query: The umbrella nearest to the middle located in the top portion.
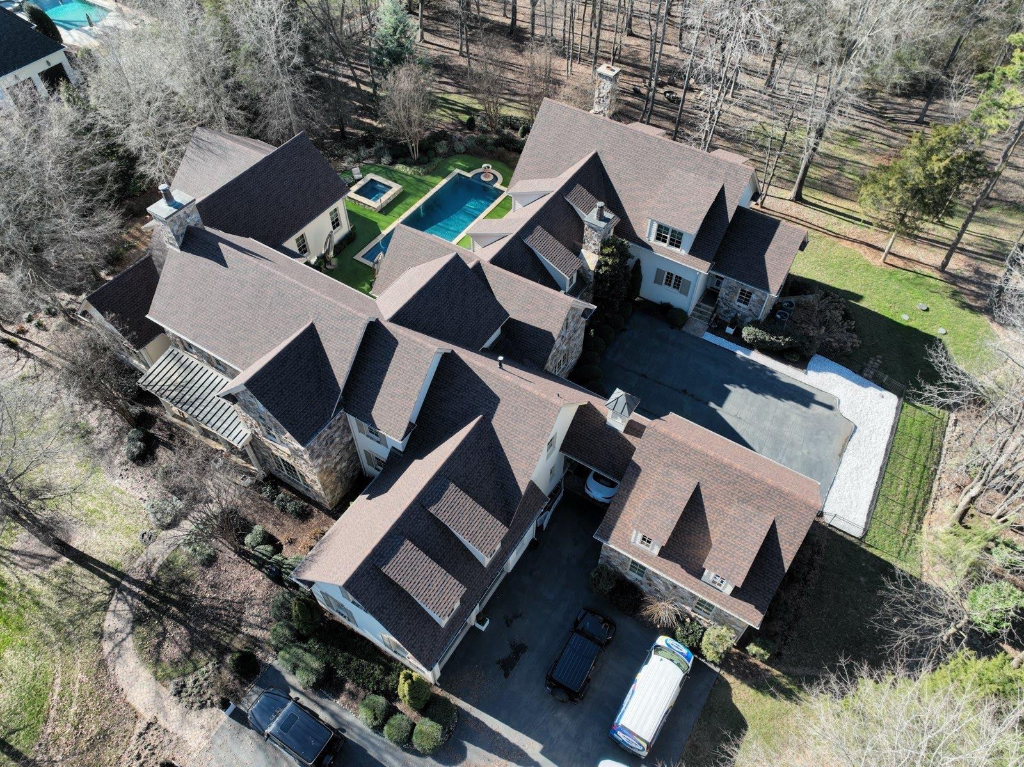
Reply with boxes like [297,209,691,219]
[361,250,375,286]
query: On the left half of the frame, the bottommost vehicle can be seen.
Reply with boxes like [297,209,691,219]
[246,685,345,767]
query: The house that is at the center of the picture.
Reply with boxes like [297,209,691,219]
[76,64,821,698]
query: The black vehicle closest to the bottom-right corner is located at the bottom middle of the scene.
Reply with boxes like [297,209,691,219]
[543,610,621,710]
